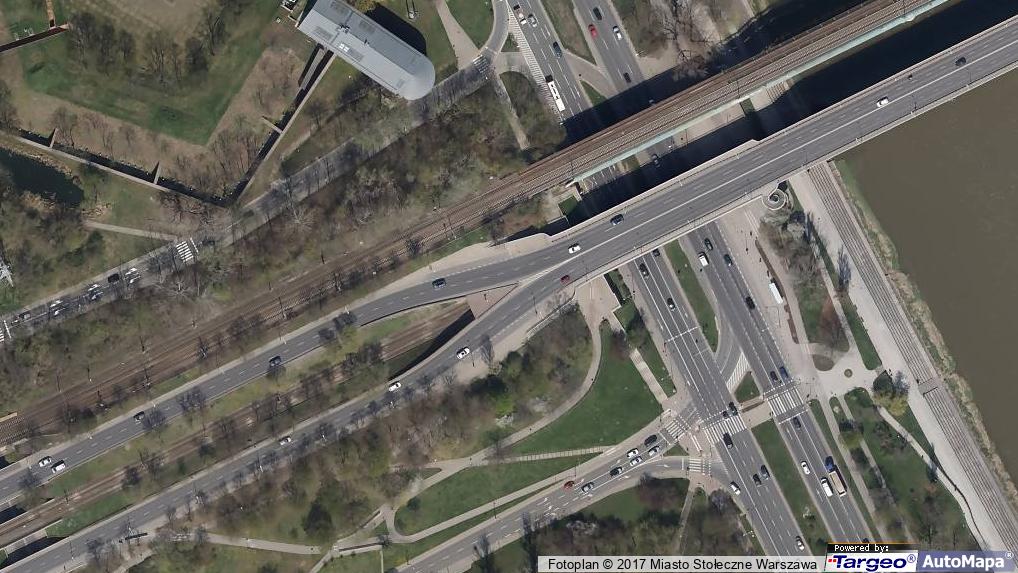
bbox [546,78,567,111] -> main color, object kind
white bus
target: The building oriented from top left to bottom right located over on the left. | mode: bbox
[297,0,430,97]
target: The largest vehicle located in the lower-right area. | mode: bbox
[826,464,847,496]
